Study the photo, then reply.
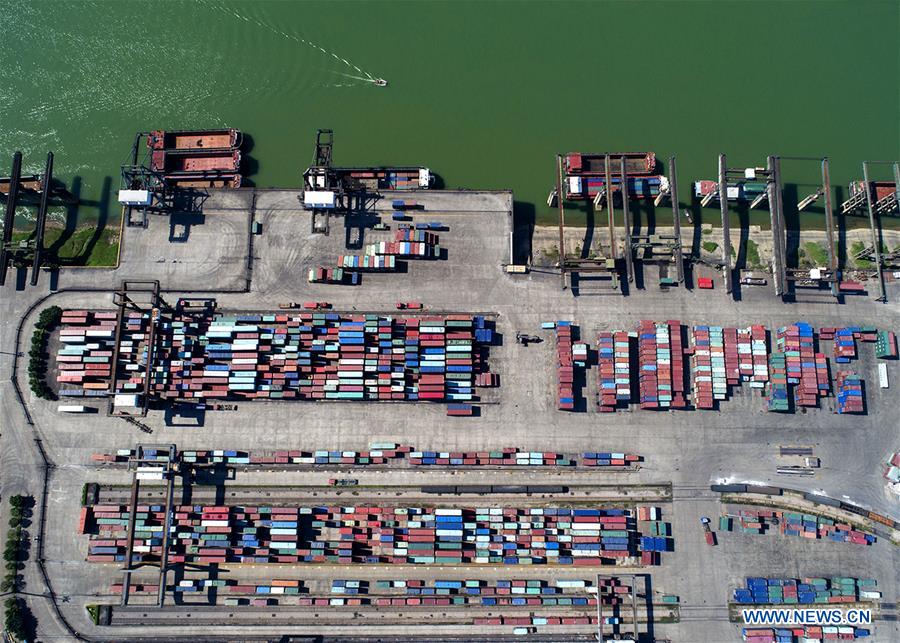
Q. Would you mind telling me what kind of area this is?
port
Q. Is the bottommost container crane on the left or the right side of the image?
right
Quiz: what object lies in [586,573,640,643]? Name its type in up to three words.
container crane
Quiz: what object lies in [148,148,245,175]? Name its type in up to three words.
ship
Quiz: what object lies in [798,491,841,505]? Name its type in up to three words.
rail car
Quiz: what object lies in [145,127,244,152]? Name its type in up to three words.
ship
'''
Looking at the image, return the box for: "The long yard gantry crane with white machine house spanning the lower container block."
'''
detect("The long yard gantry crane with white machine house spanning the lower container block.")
[119,444,194,606]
